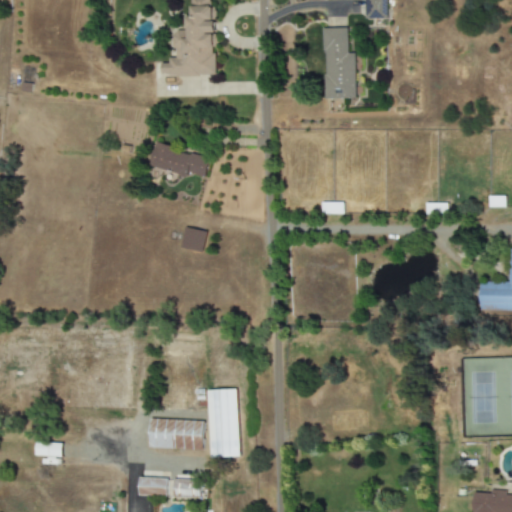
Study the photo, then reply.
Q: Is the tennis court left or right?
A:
right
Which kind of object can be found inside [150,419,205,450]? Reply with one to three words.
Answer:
barn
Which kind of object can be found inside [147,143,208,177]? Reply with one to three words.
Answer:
house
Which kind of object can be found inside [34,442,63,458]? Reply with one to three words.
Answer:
building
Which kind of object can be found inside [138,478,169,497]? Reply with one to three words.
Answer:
building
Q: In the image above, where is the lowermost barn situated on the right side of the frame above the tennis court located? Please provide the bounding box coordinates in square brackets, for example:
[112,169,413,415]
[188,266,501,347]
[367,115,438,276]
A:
[480,232,512,310]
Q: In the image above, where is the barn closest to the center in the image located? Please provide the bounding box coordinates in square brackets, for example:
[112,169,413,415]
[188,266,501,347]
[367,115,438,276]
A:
[182,226,208,251]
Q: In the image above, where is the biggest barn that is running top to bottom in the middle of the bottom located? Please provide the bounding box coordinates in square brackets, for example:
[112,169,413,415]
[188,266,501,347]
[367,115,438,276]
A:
[208,388,240,458]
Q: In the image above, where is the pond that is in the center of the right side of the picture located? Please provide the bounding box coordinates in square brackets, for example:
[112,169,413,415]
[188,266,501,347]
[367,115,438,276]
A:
[376,252,438,306]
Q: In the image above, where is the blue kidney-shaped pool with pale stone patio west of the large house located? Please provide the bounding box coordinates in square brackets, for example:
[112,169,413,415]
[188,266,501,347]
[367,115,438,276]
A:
[135,20,154,46]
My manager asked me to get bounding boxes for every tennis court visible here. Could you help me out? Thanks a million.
[462,356,512,438]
